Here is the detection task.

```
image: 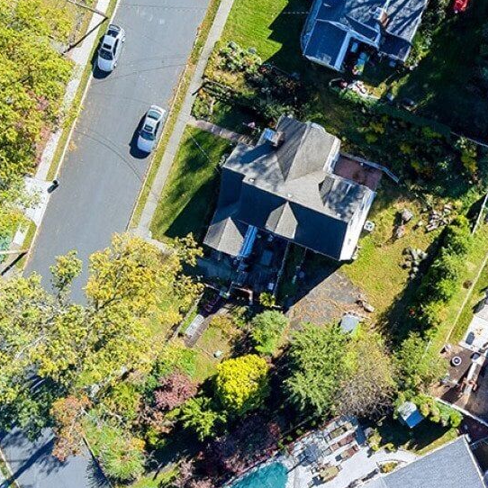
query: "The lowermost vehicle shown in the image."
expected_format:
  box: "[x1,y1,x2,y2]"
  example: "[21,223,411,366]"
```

[136,103,167,154]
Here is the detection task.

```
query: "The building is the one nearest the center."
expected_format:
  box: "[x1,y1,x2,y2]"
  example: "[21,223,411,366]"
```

[203,116,382,263]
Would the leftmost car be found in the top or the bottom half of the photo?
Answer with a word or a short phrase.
top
